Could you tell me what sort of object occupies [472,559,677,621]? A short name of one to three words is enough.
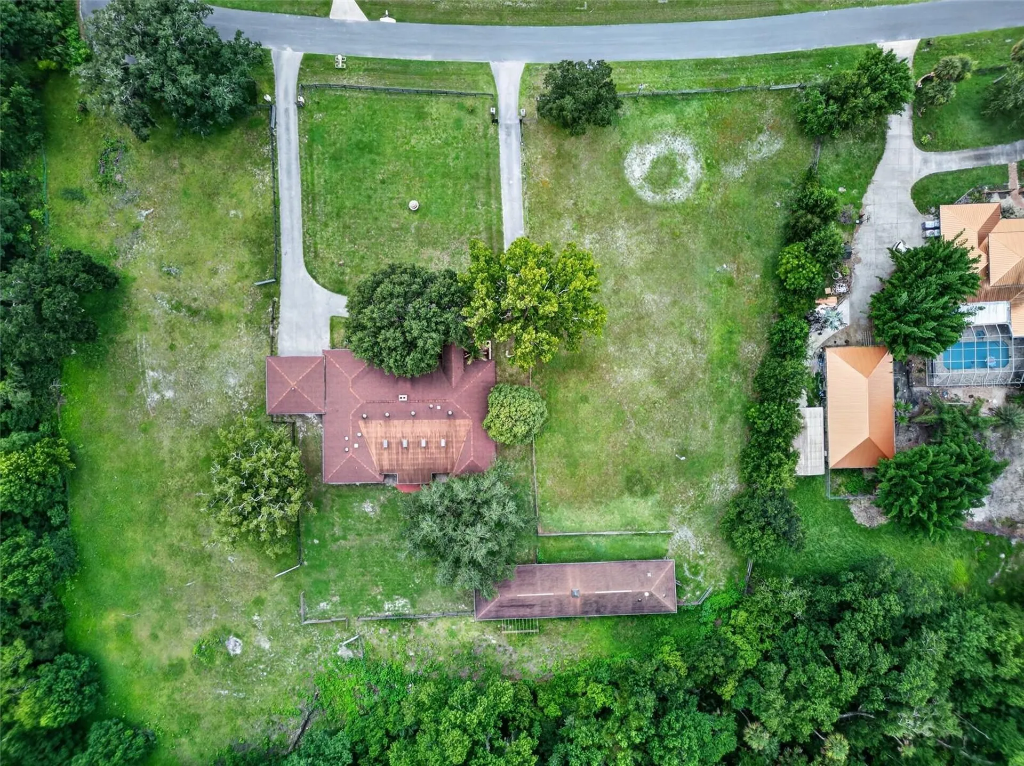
building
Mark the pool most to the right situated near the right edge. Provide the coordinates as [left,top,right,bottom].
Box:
[942,340,1010,370]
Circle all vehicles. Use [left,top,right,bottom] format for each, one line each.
[891,237,914,258]
[919,220,940,231]
[920,229,940,239]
